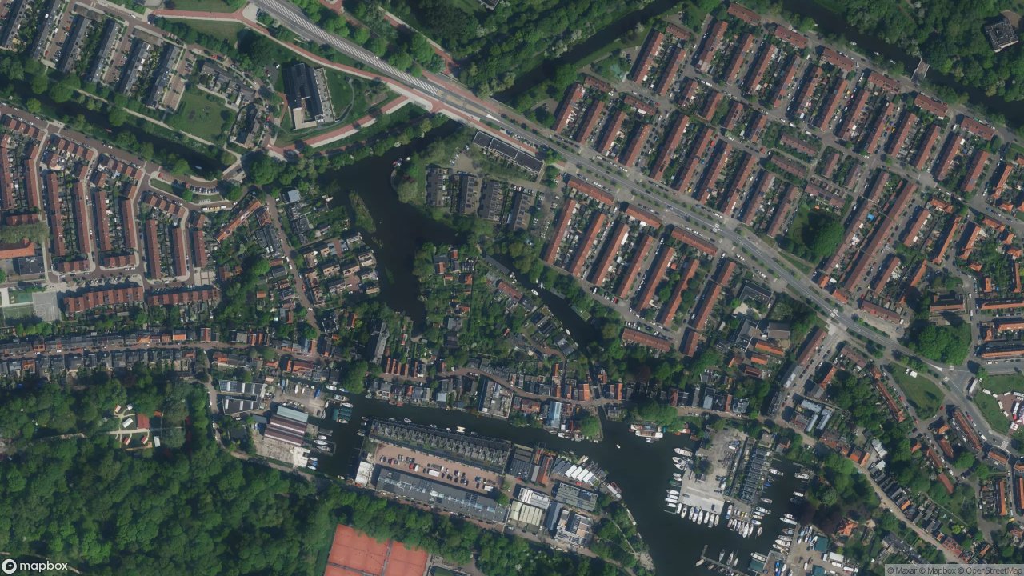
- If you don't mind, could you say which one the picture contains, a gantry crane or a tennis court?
tennis court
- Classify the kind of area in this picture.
residential area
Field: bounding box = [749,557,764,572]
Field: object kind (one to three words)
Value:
boat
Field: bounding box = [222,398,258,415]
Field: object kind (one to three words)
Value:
building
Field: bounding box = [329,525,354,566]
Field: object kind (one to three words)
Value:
tennis court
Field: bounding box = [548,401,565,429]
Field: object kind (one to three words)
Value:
building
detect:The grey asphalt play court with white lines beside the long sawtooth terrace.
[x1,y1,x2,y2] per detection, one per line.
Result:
[32,291,59,321]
